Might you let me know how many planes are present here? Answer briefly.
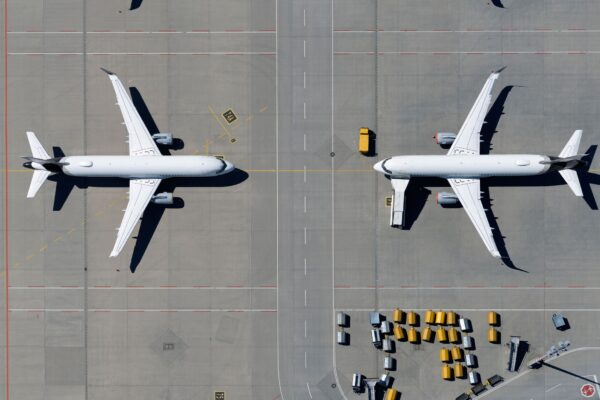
2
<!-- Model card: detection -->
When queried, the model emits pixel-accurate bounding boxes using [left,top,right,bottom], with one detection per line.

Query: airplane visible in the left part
[21,68,236,258]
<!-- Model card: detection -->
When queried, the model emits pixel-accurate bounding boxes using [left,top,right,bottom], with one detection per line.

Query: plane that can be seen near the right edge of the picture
[373,68,588,257]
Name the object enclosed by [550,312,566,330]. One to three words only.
work vehicle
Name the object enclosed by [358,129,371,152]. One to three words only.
vehicle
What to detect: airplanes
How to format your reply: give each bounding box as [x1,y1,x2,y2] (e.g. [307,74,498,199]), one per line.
[373,68,588,257]
[21,68,236,258]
